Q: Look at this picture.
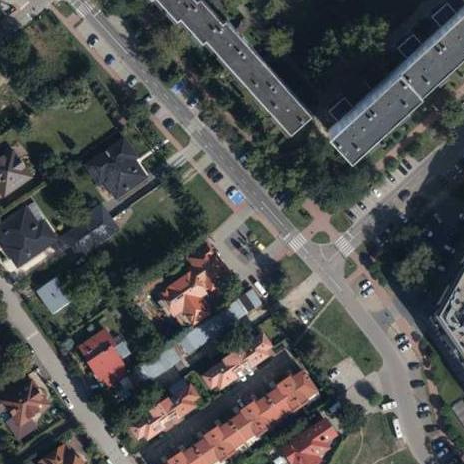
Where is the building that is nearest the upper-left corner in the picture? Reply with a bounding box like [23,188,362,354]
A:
[0,146,34,199]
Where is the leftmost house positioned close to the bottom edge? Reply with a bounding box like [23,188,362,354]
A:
[0,373,51,442]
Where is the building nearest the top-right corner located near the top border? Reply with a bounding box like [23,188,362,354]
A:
[321,11,464,167]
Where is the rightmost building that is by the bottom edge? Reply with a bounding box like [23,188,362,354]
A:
[277,418,338,464]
